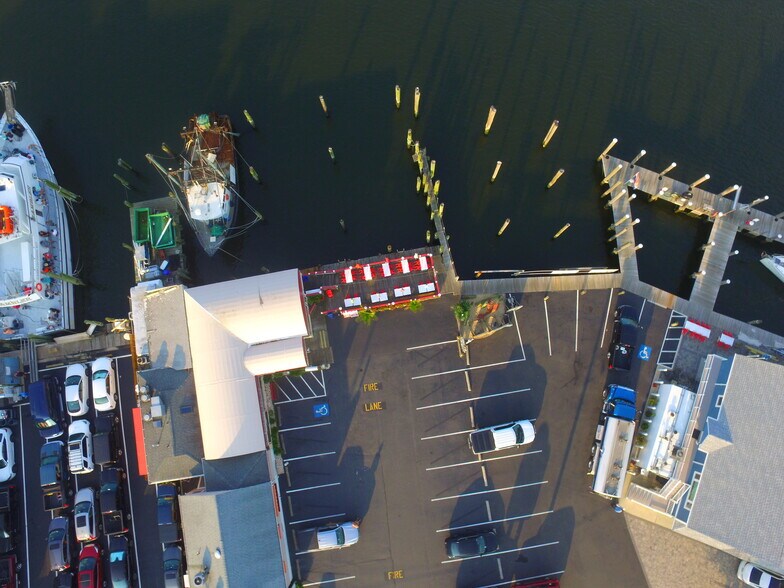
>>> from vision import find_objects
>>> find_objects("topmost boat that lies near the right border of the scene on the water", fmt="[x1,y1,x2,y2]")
[756,257,784,289]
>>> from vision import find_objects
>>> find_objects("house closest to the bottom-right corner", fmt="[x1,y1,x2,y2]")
[625,355,784,562]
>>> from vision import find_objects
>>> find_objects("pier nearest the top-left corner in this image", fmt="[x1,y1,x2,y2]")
[122,197,188,289]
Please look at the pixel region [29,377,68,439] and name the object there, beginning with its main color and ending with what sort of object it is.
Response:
blue van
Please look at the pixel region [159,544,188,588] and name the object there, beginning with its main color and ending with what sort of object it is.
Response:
blue car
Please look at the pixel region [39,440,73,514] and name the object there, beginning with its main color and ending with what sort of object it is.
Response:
blue truck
